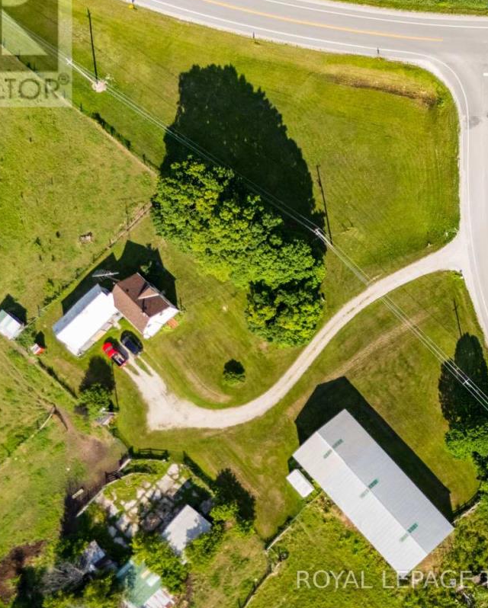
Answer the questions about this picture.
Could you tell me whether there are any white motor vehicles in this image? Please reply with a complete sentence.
No, no white motor vehicle is visible in the view.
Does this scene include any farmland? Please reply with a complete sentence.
Yes, there is farmland in the image.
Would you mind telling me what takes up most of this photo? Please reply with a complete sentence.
For the most part, this view shows grass.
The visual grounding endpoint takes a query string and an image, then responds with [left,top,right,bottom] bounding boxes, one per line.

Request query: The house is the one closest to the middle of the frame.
[111,274,187,333]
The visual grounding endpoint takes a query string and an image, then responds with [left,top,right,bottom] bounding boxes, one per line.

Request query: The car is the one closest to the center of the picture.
[120,331,144,357]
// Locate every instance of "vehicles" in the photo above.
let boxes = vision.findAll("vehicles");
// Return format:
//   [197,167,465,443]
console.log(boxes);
[120,331,144,357]
[101,340,129,370]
